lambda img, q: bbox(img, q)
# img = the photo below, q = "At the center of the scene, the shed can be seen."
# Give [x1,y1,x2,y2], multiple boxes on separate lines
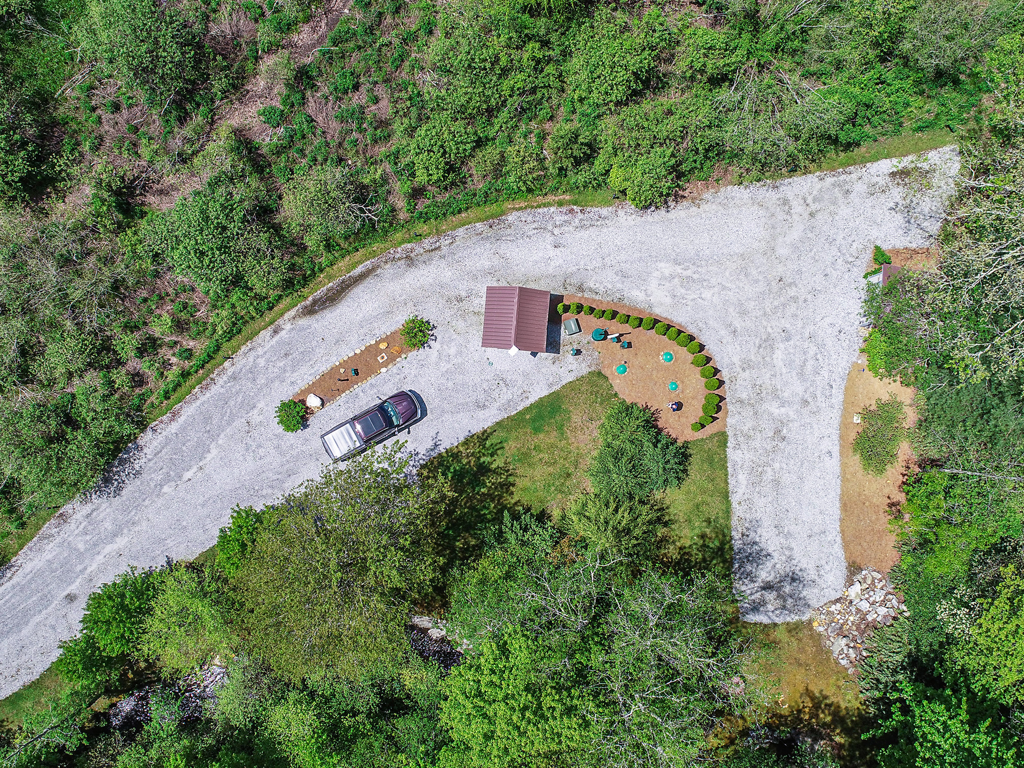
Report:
[481,286,551,352]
